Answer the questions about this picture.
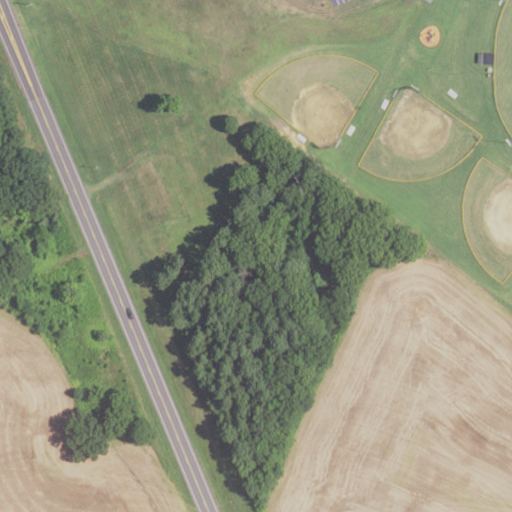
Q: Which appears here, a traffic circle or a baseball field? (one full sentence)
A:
This aerial view contains a baseball field.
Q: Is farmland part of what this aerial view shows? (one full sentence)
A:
Yes, there's farmland in this view.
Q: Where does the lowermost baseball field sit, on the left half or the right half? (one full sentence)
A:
You can find the lowermost baseball field on the right side of the picture.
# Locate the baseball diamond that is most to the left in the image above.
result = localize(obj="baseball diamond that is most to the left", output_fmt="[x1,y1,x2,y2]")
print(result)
[254,54,379,148]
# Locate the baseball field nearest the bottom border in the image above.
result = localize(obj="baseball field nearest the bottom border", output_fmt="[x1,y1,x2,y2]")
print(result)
[462,157,512,285]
